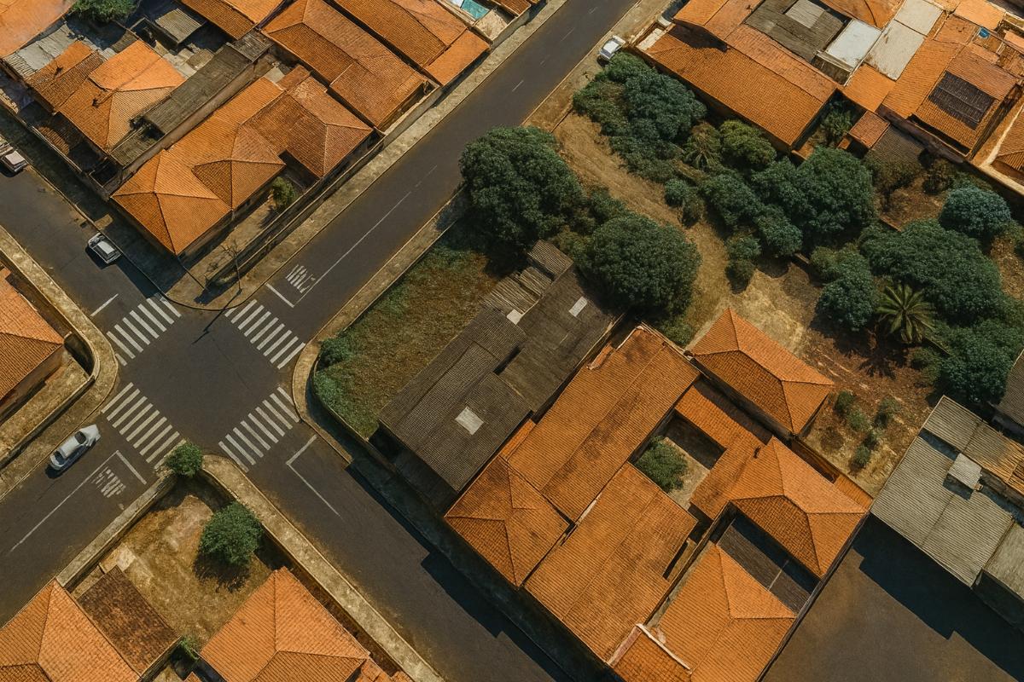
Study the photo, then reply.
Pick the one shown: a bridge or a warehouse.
warehouse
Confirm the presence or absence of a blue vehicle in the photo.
No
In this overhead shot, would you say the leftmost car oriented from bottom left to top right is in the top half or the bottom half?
bottom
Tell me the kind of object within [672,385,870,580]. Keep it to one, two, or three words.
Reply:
house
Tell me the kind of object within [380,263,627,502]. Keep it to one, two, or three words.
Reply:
shed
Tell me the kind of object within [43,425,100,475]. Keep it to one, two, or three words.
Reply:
car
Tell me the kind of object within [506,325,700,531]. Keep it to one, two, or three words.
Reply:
warehouse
